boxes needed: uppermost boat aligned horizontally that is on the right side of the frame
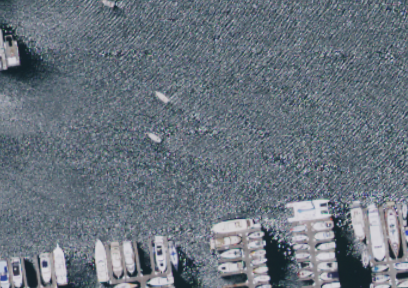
[286,198,332,221]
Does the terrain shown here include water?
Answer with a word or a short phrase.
Yes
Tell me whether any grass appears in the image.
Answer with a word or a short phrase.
No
